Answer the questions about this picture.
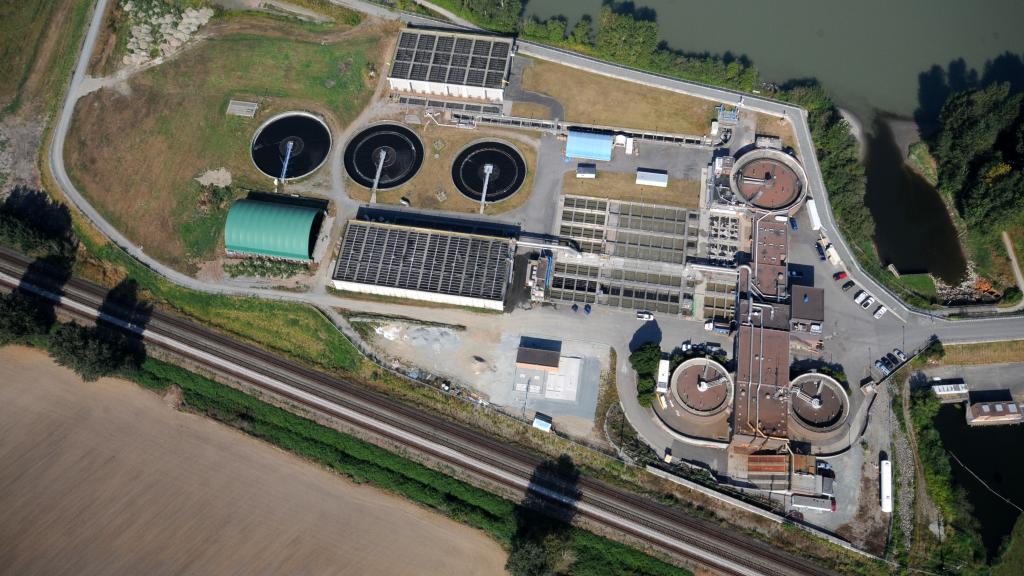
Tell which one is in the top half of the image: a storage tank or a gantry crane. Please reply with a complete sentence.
Visible in the top half of the image is a storage tank.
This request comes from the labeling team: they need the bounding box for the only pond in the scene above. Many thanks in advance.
[937,403,1024,559]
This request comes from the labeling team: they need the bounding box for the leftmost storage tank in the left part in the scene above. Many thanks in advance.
[250,112,333,183]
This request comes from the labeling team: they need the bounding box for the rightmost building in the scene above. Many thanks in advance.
[966,390,1024,425]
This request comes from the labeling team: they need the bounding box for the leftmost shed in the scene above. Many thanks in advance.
[224,200,327,266]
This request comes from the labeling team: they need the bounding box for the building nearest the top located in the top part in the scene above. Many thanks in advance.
[387,28,517,103]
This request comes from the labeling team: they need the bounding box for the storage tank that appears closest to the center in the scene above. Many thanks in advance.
[450,138,529,213]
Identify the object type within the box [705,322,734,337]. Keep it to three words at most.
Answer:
vehicle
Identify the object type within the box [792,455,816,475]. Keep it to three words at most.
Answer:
shed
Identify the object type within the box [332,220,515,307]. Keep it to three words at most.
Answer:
building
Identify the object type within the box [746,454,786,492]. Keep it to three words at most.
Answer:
house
